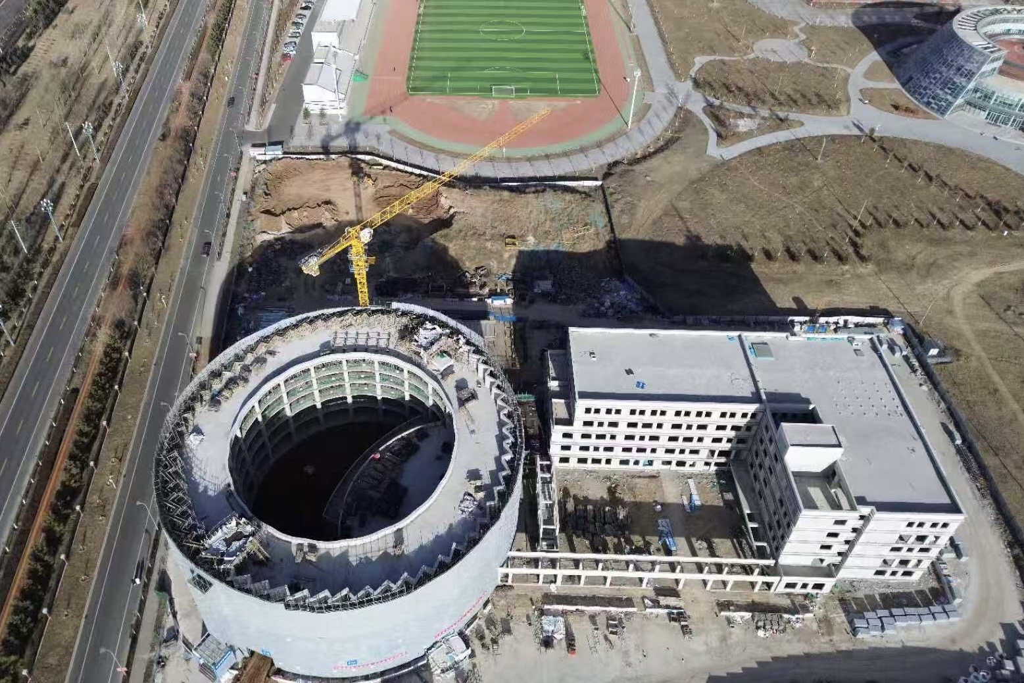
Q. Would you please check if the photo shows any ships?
No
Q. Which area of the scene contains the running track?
top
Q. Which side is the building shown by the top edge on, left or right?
right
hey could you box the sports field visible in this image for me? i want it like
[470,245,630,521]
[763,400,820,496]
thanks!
[403,0,604,97]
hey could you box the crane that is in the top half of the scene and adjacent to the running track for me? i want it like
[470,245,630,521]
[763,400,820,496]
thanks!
[290,105,553,305]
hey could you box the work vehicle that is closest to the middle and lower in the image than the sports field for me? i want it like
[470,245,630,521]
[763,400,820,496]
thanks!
[502,233,521,245]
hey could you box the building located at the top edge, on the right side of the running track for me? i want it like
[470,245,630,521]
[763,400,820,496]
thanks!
[894,4,1024,134]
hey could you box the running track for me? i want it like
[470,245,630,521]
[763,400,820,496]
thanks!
[350,0,648,157]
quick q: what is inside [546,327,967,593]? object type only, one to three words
building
